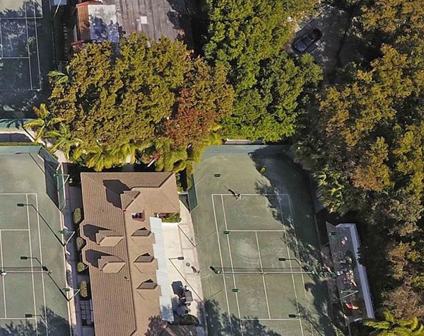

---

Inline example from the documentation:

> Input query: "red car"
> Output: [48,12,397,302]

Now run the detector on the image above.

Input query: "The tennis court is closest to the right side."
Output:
[188,154,337,336]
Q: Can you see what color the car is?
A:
black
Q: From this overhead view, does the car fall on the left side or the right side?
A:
right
